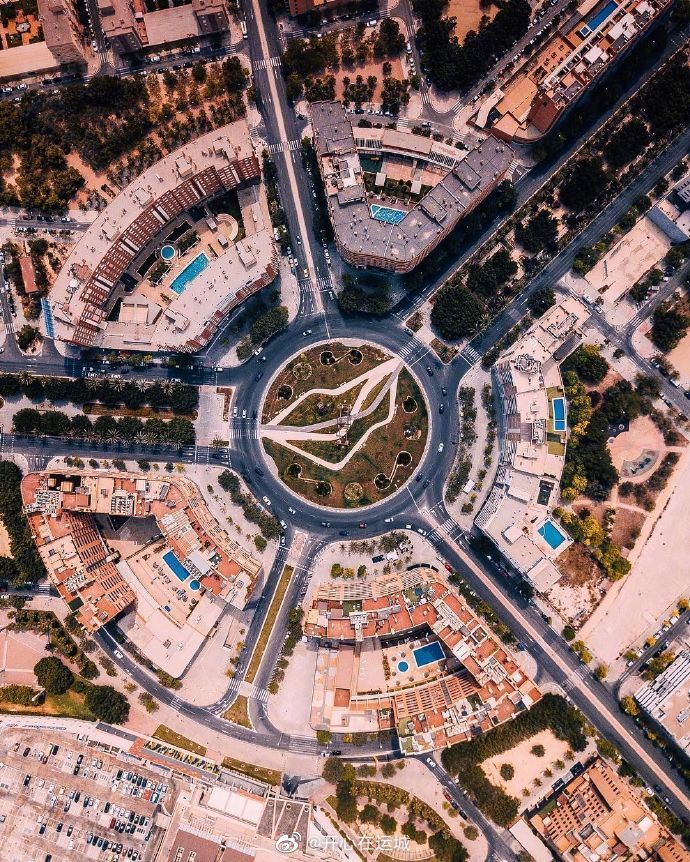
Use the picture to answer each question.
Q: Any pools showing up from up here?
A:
Yes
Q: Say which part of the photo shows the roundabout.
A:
center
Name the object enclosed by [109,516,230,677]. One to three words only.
building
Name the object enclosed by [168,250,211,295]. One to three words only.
swimming pool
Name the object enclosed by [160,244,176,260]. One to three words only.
swimming pool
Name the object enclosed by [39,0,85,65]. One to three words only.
building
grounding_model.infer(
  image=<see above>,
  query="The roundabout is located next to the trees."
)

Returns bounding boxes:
[230,310,460,540]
